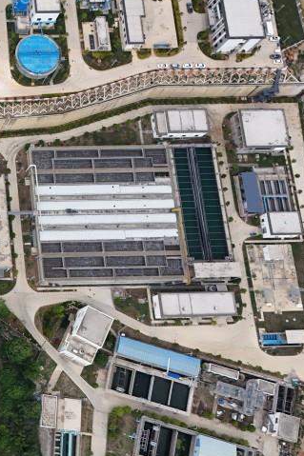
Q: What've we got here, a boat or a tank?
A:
tank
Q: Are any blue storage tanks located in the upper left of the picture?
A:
Yes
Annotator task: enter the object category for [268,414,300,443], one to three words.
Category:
house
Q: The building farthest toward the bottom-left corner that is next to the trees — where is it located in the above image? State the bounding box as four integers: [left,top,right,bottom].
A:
[38,396,57,428]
